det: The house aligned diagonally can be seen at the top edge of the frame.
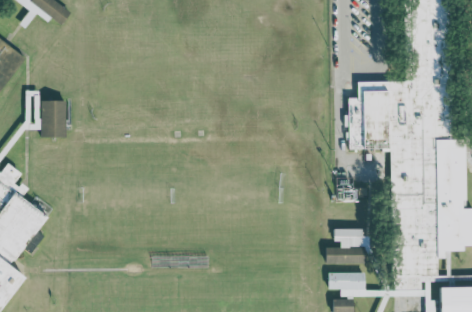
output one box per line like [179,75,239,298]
[32,0,71,24]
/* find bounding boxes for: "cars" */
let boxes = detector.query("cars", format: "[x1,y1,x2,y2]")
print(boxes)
[353,24,362,32]
[333,4,338,13]
[363,40,371,48]
[362,8,370,18]
[334,56,339,66]
[333,16,338,26]
[352,6,360,16]
[334,30,338,40]
[364,18,372,26]
[362,0,370,10]
[363,32,371,42]
[364,24,372,34]
[352,32,360,40]
[352,0,360,8]
[352,14,360,23]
